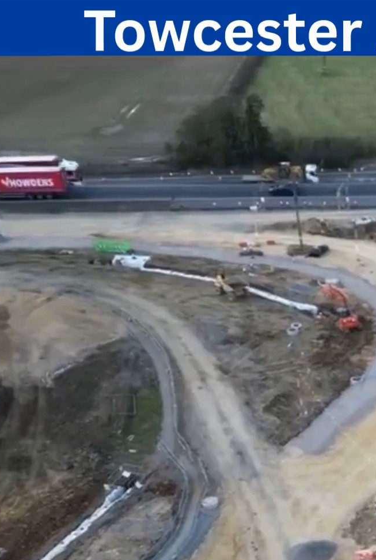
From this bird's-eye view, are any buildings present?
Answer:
No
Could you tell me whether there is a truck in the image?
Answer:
Yes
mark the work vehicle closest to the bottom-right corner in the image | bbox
[325,282,363,335]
